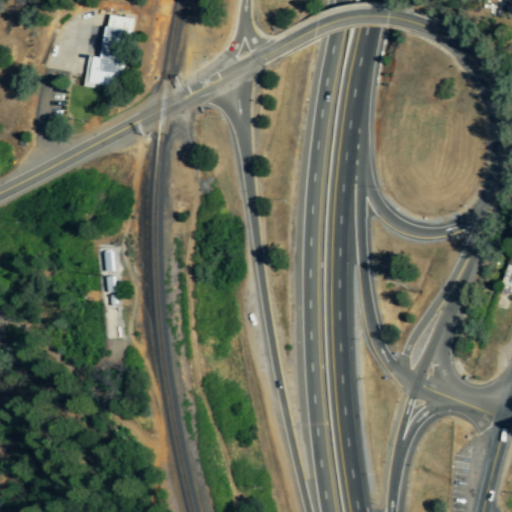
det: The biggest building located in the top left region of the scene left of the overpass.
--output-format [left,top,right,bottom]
[85,14,136,88]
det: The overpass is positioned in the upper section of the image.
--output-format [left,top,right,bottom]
[237,4,426,78]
